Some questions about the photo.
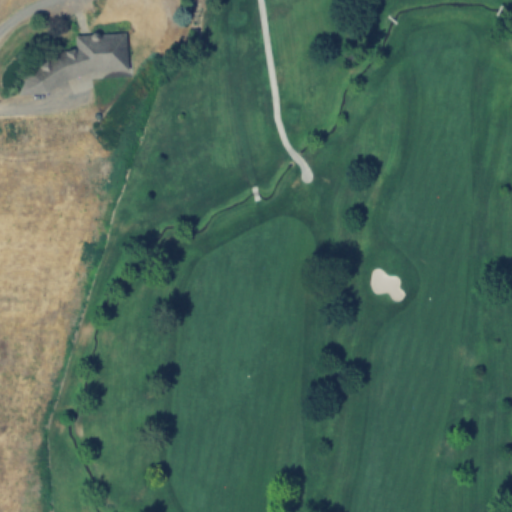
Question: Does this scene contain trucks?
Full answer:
No, the frame has no truck in it.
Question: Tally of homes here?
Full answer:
In total, 1 home can be seen.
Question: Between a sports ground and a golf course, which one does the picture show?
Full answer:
The area seen from above is a golf course.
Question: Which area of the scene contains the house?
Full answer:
You can find the house in the top left area of the picture.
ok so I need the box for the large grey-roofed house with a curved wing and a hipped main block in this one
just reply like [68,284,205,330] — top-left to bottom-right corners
[26,32,132,92]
